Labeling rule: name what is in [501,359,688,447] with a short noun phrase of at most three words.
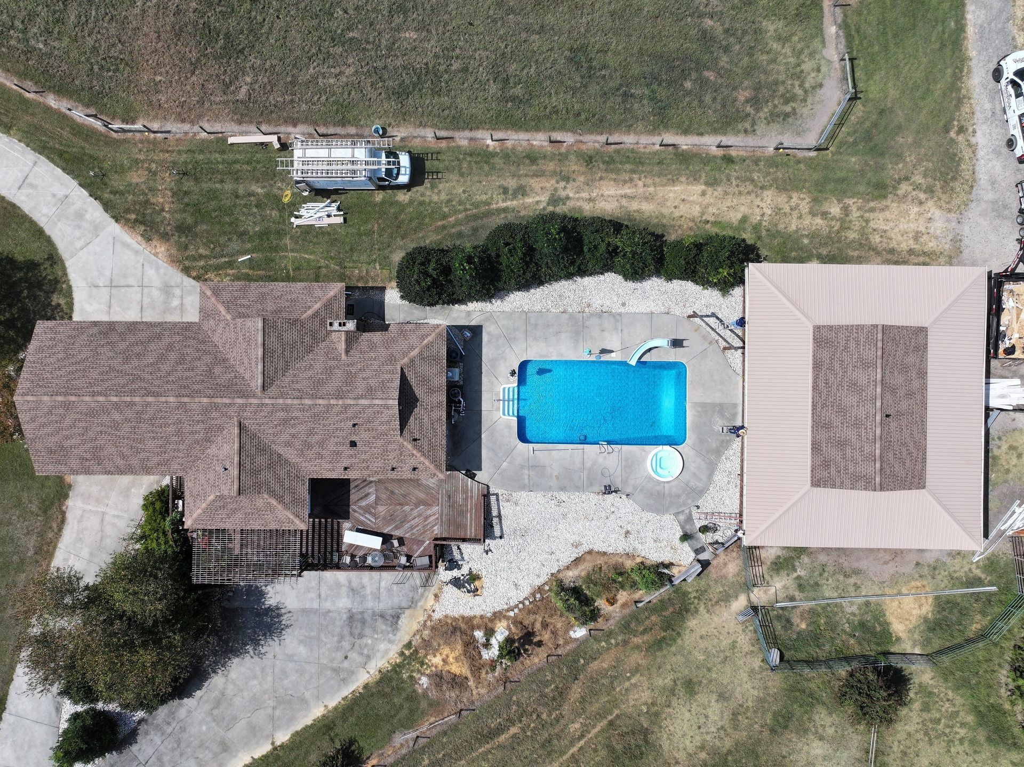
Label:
swimming pool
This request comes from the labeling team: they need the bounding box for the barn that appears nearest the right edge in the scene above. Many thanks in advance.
[737,260,990,553]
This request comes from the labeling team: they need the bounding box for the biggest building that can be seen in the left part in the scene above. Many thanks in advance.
[11,282,448,528]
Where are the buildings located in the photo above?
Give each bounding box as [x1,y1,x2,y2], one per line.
[737,260,990,553]
[11,282,448,528]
